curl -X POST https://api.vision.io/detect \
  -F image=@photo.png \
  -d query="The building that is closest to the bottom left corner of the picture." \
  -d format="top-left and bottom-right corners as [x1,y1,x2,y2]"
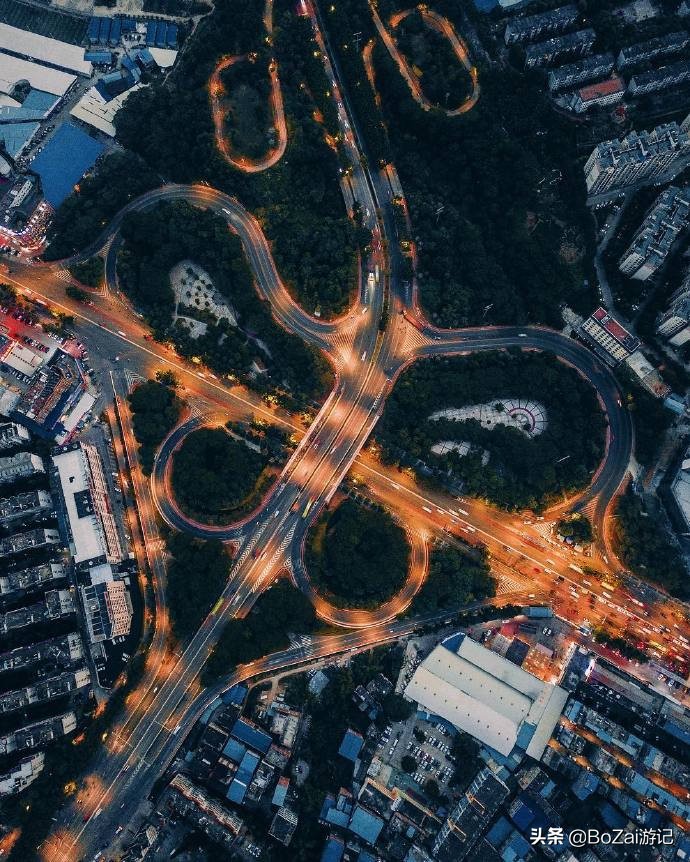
[0,749,50,799]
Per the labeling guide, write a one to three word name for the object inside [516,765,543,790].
house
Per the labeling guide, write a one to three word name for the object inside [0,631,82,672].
building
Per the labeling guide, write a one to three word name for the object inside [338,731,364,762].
house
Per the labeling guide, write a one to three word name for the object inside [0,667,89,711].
building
